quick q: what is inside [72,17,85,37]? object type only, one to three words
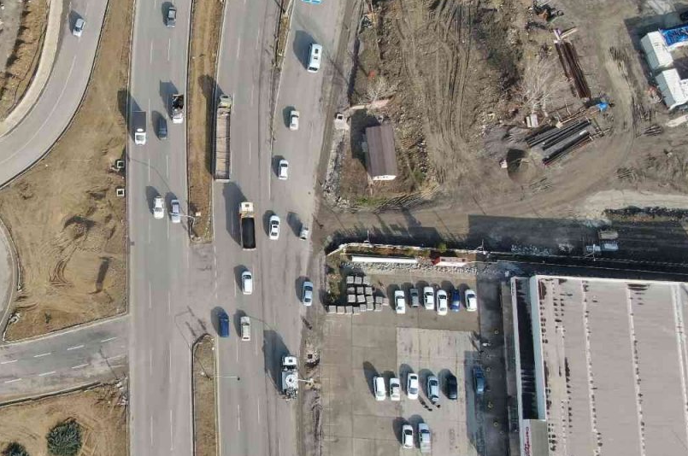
vehicle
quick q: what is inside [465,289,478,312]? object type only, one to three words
vehicle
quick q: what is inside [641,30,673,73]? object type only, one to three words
building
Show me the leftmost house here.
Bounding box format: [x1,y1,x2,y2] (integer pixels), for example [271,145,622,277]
[359,124,396,180]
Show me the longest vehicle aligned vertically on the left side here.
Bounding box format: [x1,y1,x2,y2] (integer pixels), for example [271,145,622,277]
[217,91,233,180]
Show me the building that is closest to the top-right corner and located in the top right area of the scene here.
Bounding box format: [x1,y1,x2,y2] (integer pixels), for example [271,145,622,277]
[660,23,688,49]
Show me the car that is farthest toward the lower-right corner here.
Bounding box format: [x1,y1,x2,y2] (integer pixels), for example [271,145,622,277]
[471,366,486,395]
